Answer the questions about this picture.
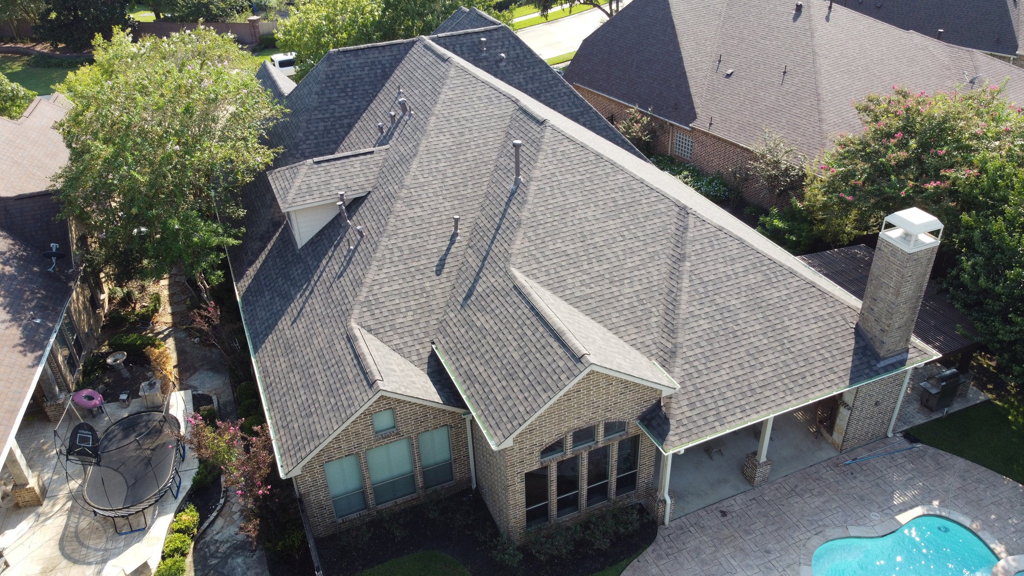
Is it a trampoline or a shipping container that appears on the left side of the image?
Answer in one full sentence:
What appears on the left side of the image is a trampoline.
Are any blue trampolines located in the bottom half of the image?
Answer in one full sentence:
No, the scene shows no blue trampoline in the bottom half of the image.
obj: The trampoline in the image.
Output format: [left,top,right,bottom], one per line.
[55,375,188,534]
